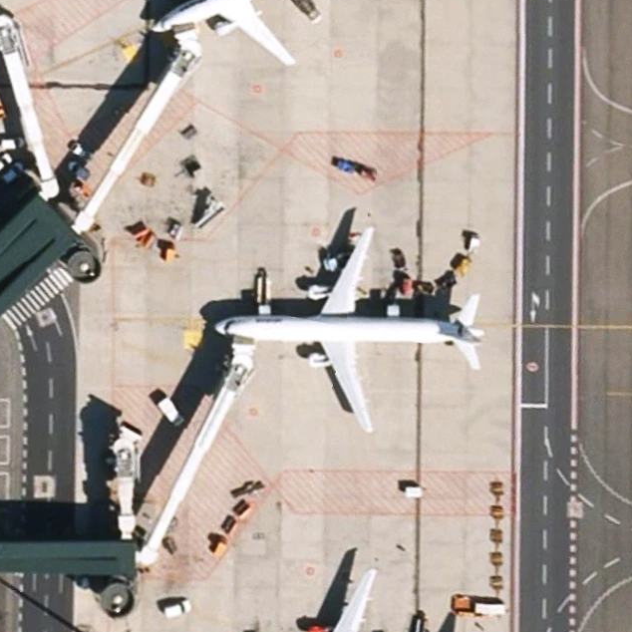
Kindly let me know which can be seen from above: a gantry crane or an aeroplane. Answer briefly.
aeroplane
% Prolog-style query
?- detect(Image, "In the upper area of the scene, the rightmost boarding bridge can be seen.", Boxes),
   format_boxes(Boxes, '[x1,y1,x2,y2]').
[74,22,197,242]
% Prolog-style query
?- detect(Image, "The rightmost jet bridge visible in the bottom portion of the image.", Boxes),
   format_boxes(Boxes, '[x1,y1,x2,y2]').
[135,337,252,560]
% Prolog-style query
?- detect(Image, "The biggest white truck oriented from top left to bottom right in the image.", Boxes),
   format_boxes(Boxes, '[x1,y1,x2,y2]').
[149,388,180,426]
